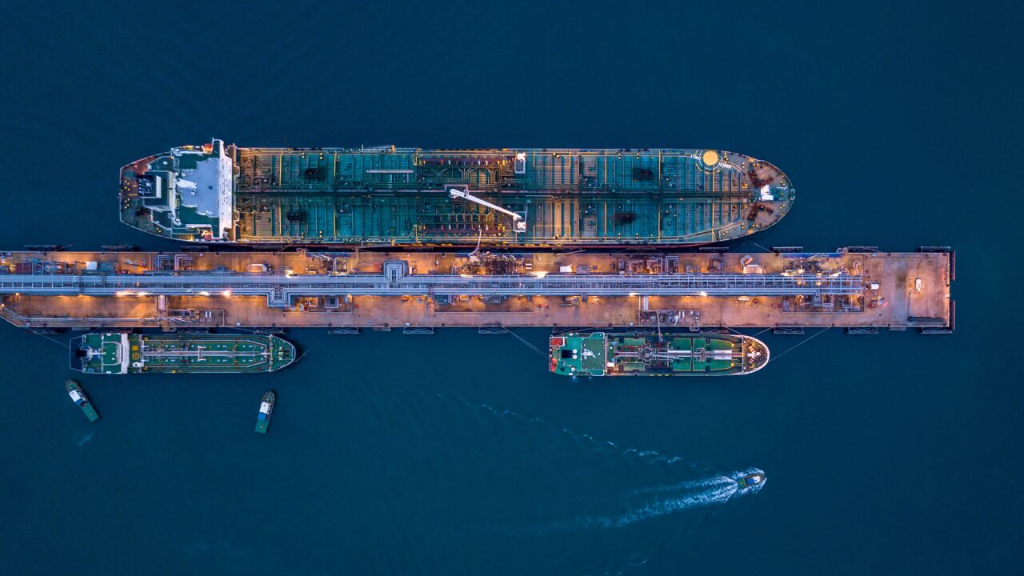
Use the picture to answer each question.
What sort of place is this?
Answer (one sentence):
The picture captures a port.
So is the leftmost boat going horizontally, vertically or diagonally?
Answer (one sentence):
The leftmost boat is oriented diagonally.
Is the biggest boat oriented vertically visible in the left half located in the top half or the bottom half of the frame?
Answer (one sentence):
It is in the bottom half that the biggest boat oriented vertically visible in the left half appears.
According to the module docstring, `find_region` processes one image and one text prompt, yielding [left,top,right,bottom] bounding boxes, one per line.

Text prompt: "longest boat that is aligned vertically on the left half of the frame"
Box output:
[256,389,276,435]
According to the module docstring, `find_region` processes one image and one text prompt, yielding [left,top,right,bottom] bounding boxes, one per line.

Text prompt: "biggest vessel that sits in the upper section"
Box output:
[120,140,795,244]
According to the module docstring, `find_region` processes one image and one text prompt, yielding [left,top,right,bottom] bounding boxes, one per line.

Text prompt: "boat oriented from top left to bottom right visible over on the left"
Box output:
[64,379,101,424]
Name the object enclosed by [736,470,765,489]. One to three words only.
boat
